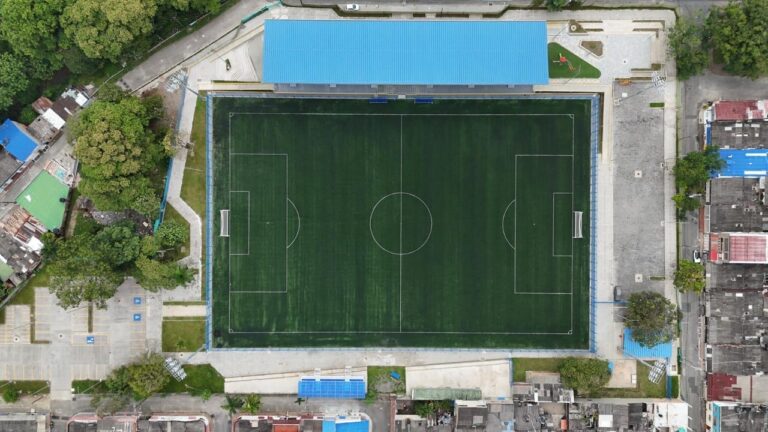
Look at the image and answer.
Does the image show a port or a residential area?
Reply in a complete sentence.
This image shows a residential area.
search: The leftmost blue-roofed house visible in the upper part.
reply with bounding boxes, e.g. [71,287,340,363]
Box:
[0,118,47,161]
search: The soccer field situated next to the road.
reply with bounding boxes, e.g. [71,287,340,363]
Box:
[212,98,590,349]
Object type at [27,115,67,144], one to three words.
house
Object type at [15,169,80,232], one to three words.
house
